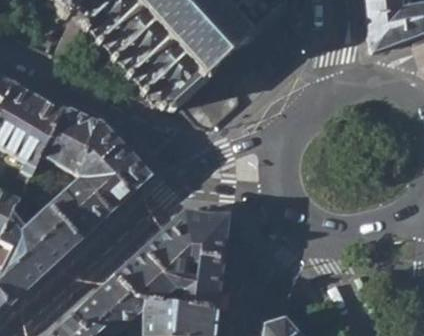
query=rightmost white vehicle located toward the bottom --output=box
[361,222,382,234]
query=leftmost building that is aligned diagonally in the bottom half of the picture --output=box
[0,177,94,290]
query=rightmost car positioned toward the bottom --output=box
[394,206,416,220]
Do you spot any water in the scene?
No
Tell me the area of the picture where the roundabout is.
right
